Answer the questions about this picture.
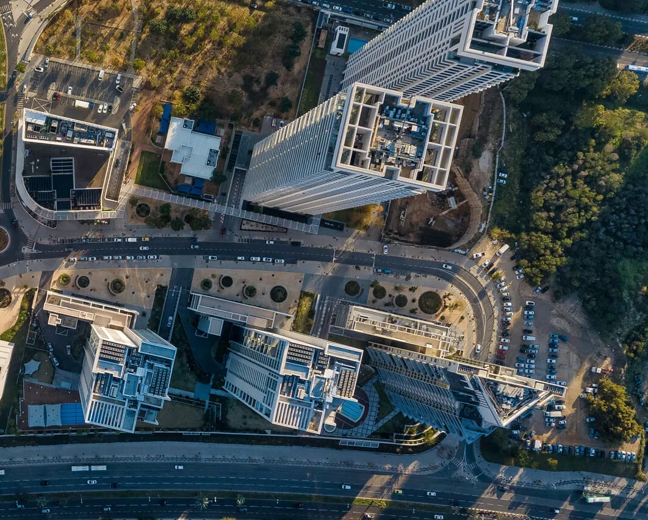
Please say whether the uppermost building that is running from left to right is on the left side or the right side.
right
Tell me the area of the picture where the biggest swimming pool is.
bottom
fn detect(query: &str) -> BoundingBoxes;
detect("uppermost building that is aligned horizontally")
[341,0,558,103]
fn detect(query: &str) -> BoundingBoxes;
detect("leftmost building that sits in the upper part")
[16,108,124,219]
